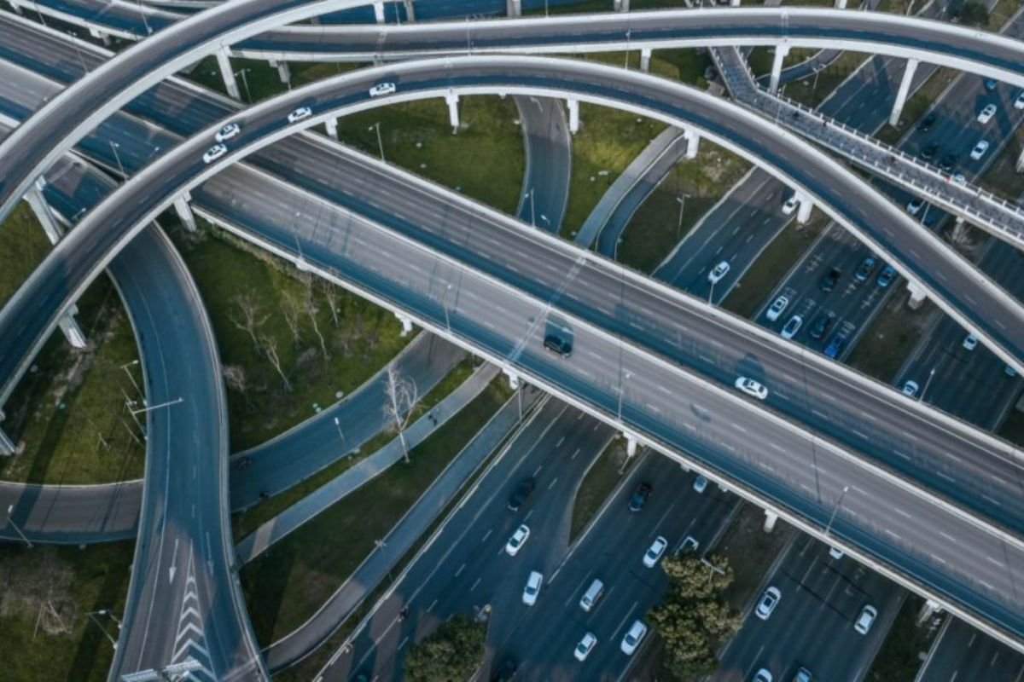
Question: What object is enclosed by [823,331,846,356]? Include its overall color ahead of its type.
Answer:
blue car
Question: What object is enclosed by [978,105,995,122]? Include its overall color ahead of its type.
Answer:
white car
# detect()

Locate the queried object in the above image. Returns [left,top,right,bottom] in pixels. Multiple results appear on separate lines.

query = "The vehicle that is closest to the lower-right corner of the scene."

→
[852,604,878,636]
